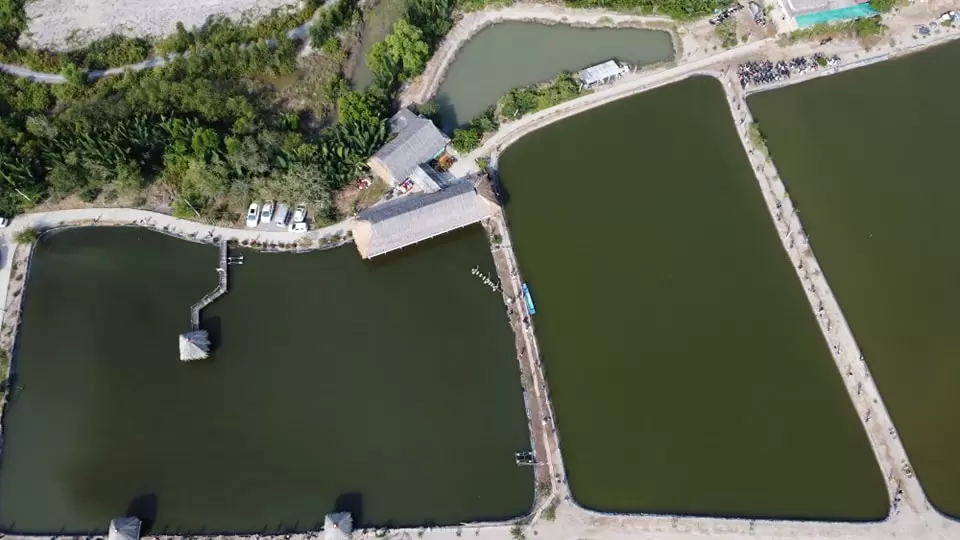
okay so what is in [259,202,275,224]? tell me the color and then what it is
white car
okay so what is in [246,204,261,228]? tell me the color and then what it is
white car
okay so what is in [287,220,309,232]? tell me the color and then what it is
white vehicle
